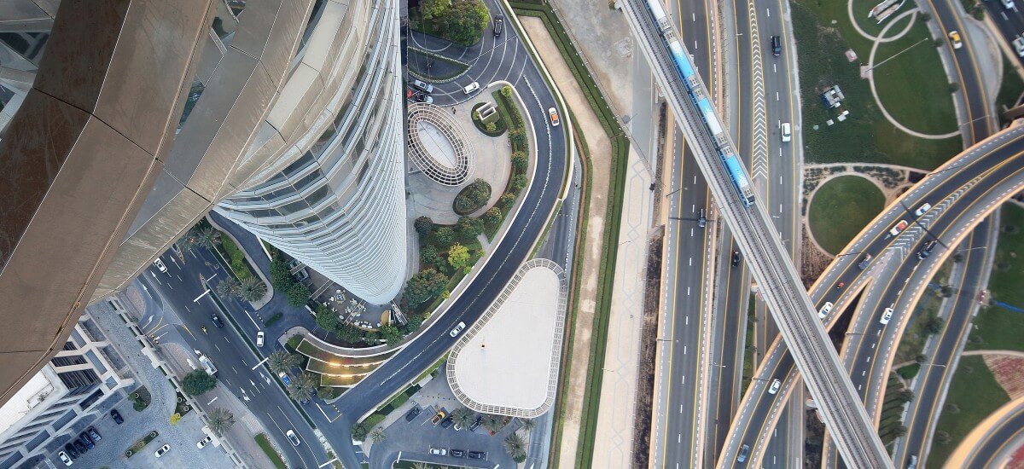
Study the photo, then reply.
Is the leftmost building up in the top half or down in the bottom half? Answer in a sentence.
You can find the leftmost building in the bottom half.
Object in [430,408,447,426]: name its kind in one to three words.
car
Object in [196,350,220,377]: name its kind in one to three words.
truck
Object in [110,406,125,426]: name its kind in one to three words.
car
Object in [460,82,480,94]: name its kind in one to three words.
vehicle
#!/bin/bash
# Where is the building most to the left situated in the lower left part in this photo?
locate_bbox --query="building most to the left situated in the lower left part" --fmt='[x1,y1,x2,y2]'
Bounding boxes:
[0,316,148,467]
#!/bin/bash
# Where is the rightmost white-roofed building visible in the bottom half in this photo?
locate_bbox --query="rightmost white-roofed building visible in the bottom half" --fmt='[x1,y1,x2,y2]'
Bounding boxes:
[446,258,567,417]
